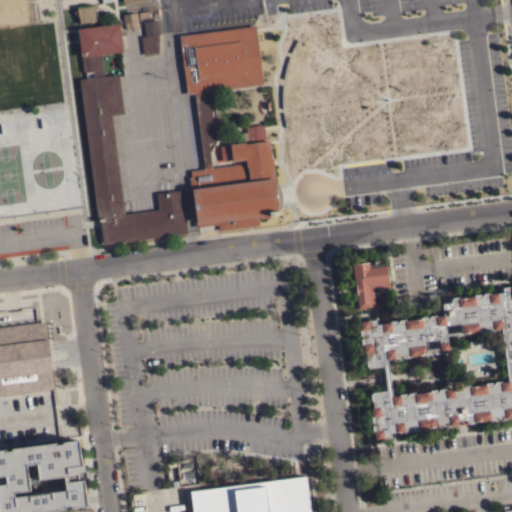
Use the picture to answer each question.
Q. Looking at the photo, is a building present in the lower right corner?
Yes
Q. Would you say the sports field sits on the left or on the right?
left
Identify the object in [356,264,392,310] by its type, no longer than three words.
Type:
house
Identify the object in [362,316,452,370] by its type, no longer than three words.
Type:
building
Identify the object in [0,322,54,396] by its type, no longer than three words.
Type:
building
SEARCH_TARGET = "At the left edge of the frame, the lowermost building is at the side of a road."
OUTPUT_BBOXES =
[0,441,87,512]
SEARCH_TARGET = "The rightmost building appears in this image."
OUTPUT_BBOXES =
[444,288,512,384]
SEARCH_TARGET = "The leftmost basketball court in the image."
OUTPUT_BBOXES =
[0,146,26,204]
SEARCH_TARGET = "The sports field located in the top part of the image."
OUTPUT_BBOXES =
[0,24,63,110]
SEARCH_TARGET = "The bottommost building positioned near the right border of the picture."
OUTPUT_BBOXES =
[372,382,512,442]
